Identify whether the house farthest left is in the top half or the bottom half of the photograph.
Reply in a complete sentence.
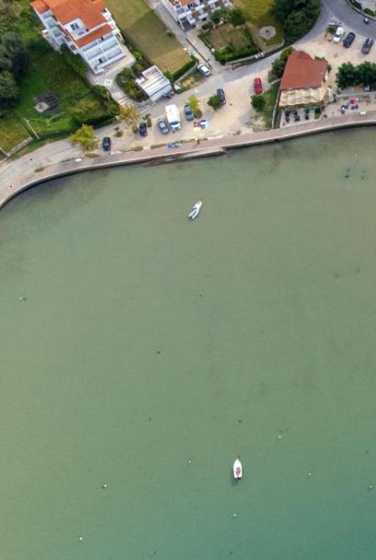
The house farthest left is in the top half of the image.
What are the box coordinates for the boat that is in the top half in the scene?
[186,200,201,221]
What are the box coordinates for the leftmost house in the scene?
[23,0,126,73]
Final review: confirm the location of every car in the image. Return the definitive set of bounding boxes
[253,78,264,93]
[344,33,355,48]
[362,38,374,54]
[197,62,211,77]
[331,26,344,41]
[101,137,112,153]
[183,104,191,122]
[217,88,227,104]
[157,120,169,137]
[138,122,148,138]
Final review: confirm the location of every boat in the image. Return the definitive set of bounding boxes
[232,458,242,482]
[186,200,201,221]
